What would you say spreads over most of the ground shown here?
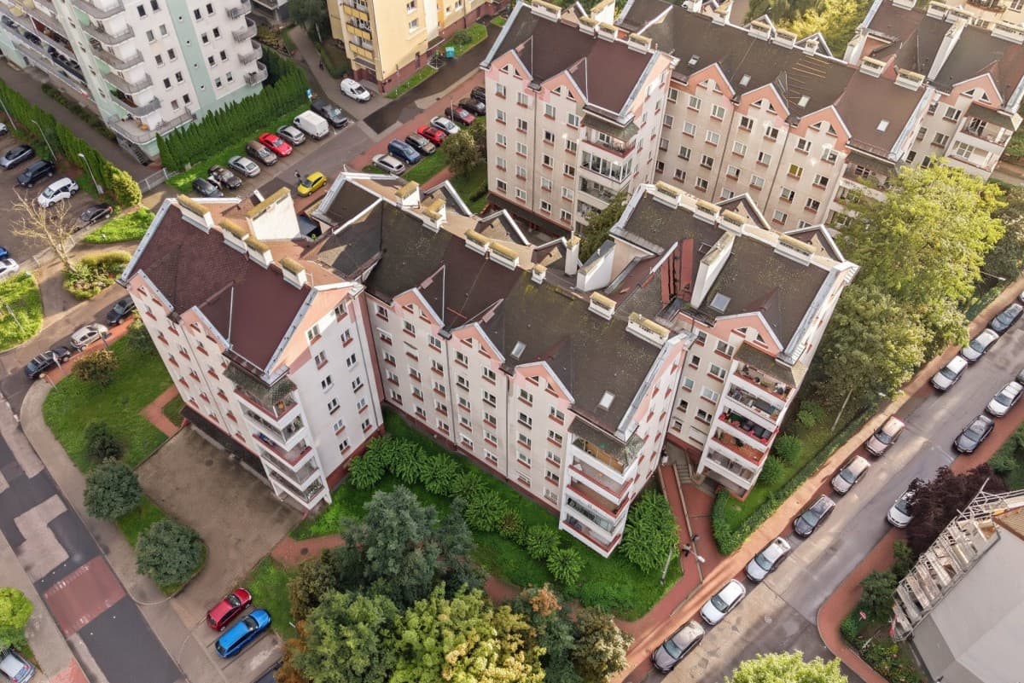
buildings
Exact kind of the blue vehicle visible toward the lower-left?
automobile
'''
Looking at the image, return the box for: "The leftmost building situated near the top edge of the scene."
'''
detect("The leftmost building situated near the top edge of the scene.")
[0,0,269,159]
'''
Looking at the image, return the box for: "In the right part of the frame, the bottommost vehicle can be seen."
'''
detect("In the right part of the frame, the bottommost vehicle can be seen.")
[651,617,705,674]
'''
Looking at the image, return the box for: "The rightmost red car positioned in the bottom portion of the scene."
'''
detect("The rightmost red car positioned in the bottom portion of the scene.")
[202,587,256,634]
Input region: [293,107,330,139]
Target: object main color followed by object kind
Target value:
white van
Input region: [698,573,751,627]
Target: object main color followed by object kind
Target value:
white car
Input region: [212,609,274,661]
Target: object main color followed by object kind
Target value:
blue car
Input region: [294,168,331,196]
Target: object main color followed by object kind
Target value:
yellow car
